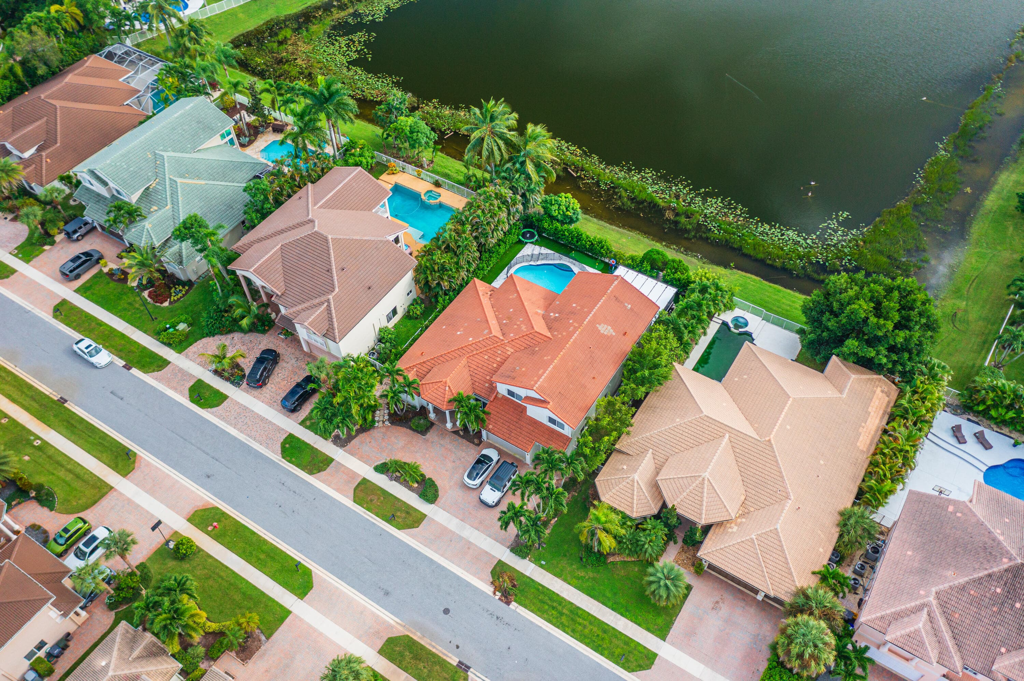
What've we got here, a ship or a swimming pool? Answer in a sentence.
There is a swimming pool in the scene.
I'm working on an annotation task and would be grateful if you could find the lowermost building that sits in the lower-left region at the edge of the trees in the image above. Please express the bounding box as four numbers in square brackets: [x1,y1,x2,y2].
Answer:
[67,619,185,681]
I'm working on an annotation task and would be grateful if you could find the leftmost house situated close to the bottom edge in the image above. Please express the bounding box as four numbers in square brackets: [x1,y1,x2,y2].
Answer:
[0,529,92,681]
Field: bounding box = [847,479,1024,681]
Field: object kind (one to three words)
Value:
house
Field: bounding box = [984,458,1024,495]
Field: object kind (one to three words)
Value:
swimming pool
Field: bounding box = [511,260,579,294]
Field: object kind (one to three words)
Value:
swimming pool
